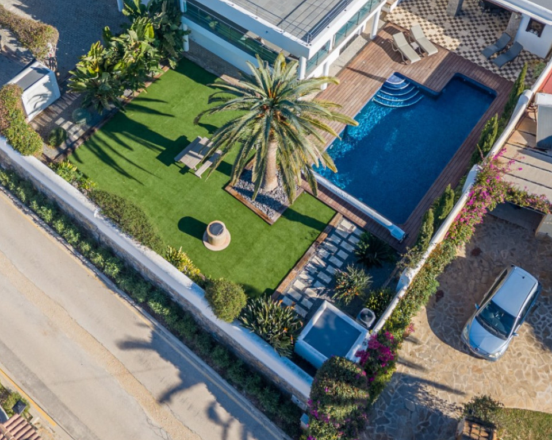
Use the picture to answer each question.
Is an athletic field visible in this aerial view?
No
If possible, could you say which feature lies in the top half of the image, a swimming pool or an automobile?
swimming pool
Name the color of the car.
blue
